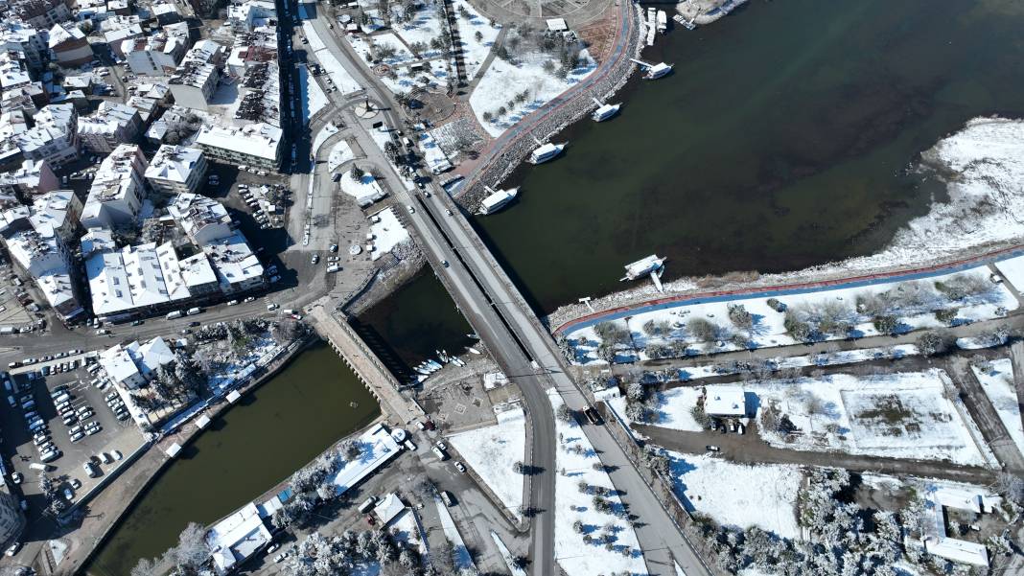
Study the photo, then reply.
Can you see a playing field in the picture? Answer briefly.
Yes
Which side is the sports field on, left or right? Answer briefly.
right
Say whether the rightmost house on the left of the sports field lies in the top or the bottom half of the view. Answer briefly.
bottom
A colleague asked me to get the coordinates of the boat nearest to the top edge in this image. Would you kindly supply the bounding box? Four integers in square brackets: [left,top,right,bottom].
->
[657,8,669,32]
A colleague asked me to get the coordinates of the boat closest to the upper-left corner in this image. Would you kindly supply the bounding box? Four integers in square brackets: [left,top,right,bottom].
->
[475,184,520,214]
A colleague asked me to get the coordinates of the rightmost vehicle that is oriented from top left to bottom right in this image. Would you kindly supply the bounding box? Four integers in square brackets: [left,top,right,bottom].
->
[583,402,600,422]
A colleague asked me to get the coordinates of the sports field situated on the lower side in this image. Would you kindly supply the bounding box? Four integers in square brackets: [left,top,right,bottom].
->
[842,386,969,448]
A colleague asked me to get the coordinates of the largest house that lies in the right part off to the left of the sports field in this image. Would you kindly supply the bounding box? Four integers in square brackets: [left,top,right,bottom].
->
[704,384,746,417]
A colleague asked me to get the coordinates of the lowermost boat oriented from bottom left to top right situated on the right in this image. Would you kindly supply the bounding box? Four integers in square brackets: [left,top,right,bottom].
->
[620,248,668,280]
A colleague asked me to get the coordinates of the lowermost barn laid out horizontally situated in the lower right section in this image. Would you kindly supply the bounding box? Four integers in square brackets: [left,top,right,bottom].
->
[921,538,989,571]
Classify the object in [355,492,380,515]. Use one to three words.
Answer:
vehicle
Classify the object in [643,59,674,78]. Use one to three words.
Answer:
boat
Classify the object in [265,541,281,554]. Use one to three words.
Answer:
vehicle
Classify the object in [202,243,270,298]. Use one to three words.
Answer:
house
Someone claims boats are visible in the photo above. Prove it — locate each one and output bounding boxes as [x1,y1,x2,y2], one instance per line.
[450,357,462,366]
[643,59,674,78]
[437,350,445,363]
[465,347,479,353]
[423,361,437,372]
[418,363,432,373]
[591,99,621,119]
[453,355,467,365]
[657,8,669,32]
[620,248,668,280]
[475,184,520,214]
[413,367,429,376]
[428,359,443,370]
[442,349,449,362]
[528,139,567,163]
[411,375,427,385]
